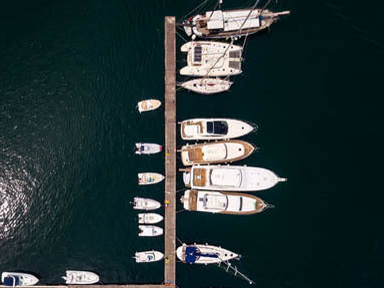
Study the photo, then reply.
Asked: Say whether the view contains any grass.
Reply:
No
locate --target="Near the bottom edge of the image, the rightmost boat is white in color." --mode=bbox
[176,241,254,283]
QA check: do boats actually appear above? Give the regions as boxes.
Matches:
[136,225,164,236]
[136,93,165,113]
[2,272,40,287]
[176,140,259,167]
[131,197,165,210]
[176,164,290,193]
[134,143,164,154]
[182,172,189,185]
[135,213,165,224]
[185,25,192,36]
[135,172,165,184]
[63,271,100,285]
[131,250,166,263]
[176,63,233,95]
[176,190,275,214]
[176,241,254,283]
[176,0,259,80]
[176,118,259,142]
